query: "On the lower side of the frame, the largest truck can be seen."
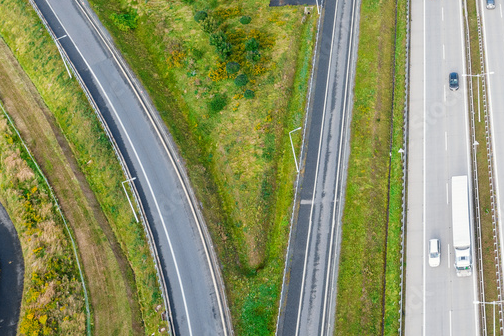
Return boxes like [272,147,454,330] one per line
[451,176,474,277]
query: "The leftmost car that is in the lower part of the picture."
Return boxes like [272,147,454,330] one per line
[427,238,441,267]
